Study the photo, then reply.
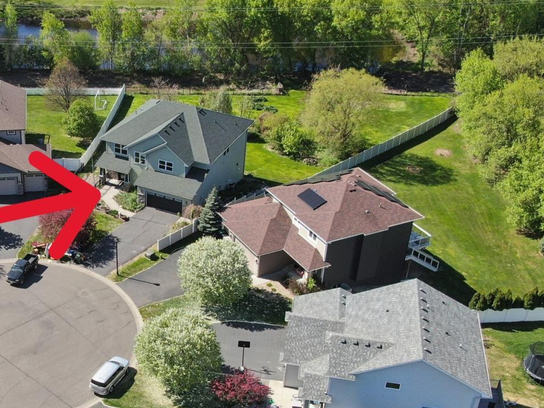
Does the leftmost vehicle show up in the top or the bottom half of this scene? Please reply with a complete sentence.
It is in the bottom half that the leftmost vehicle appears.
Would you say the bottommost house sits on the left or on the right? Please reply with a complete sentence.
It is on the right.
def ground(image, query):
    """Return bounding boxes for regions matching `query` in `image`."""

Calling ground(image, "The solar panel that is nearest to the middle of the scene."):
[297,188,326,210]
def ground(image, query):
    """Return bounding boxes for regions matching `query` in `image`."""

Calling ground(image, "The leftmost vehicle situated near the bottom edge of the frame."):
[86,356,138,398]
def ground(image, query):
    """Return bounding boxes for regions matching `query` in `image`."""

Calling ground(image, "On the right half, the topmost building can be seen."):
[218,165,454,286]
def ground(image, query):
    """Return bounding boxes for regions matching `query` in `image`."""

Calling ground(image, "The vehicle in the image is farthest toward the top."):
[5,248,44,284]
